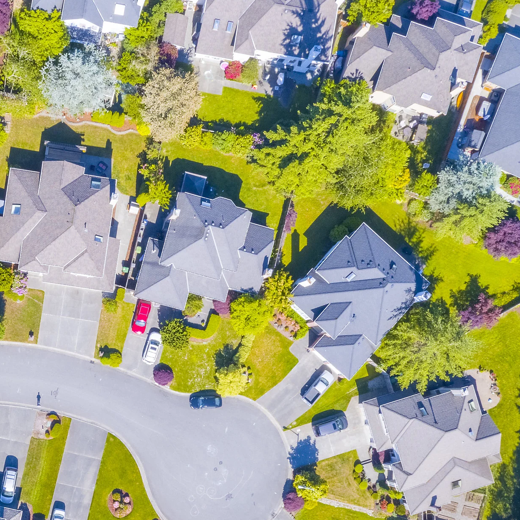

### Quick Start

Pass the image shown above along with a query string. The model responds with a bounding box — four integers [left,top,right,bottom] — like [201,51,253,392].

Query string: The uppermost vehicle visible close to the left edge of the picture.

[0,467,19,503]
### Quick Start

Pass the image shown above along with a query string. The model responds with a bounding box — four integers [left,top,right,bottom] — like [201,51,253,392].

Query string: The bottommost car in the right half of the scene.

[310,413,350,437]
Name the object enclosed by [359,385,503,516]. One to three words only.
house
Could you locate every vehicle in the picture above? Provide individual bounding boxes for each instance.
[0,467,19,503]
[189,394,223,410]
[141,329,163,365]
[132,299,152,334]
[51,509,66,520]
[456,0,474,19]
[301,367,336,406]
[310,413,350,437]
